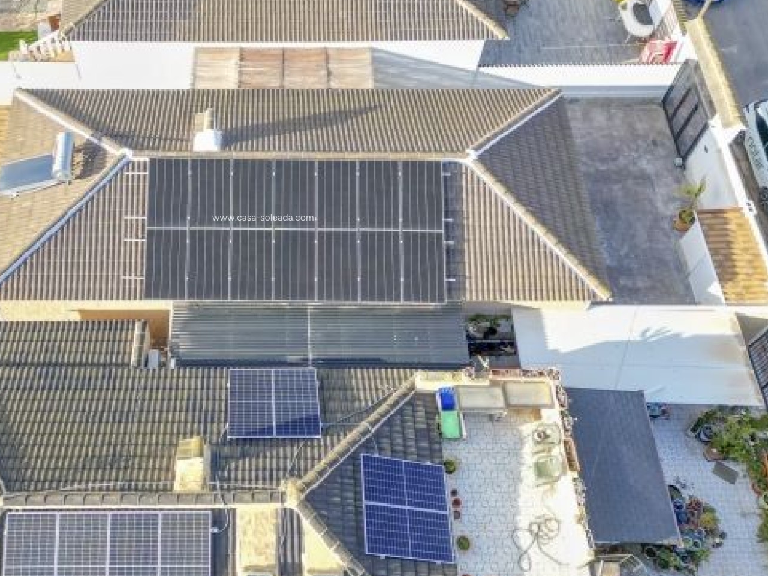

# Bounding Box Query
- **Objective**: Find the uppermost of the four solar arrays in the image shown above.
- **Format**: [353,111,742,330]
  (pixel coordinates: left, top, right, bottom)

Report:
[121,161,453,303]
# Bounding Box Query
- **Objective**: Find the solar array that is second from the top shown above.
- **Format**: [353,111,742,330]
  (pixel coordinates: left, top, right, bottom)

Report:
[228,369,320,436]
